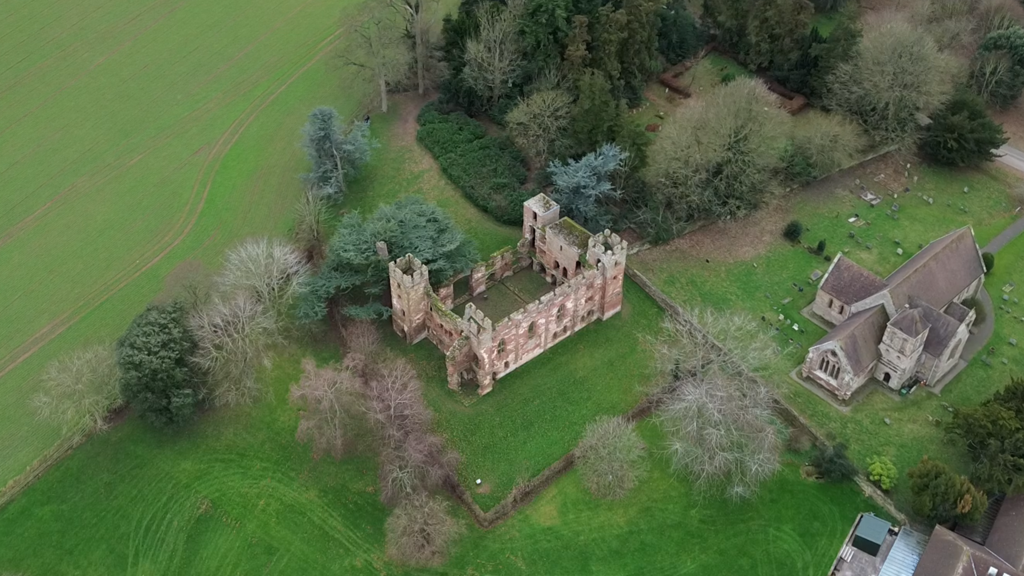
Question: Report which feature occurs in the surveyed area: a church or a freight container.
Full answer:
Visible in the photo is a church.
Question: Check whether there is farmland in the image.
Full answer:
Yes, there's farmland in this view.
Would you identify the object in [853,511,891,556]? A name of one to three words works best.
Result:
shed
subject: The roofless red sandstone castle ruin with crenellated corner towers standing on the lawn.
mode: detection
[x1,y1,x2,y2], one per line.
[387,191,631,407]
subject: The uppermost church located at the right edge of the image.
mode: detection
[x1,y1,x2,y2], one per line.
[798,225,989,403]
